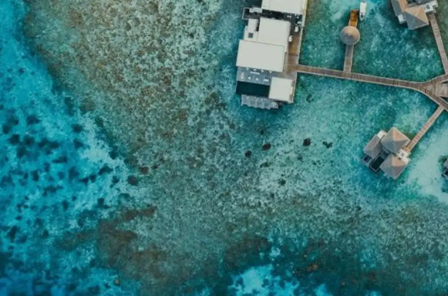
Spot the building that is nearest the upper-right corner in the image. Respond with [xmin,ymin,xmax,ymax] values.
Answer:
[391,0,440,33]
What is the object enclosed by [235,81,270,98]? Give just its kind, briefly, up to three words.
swimming pool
